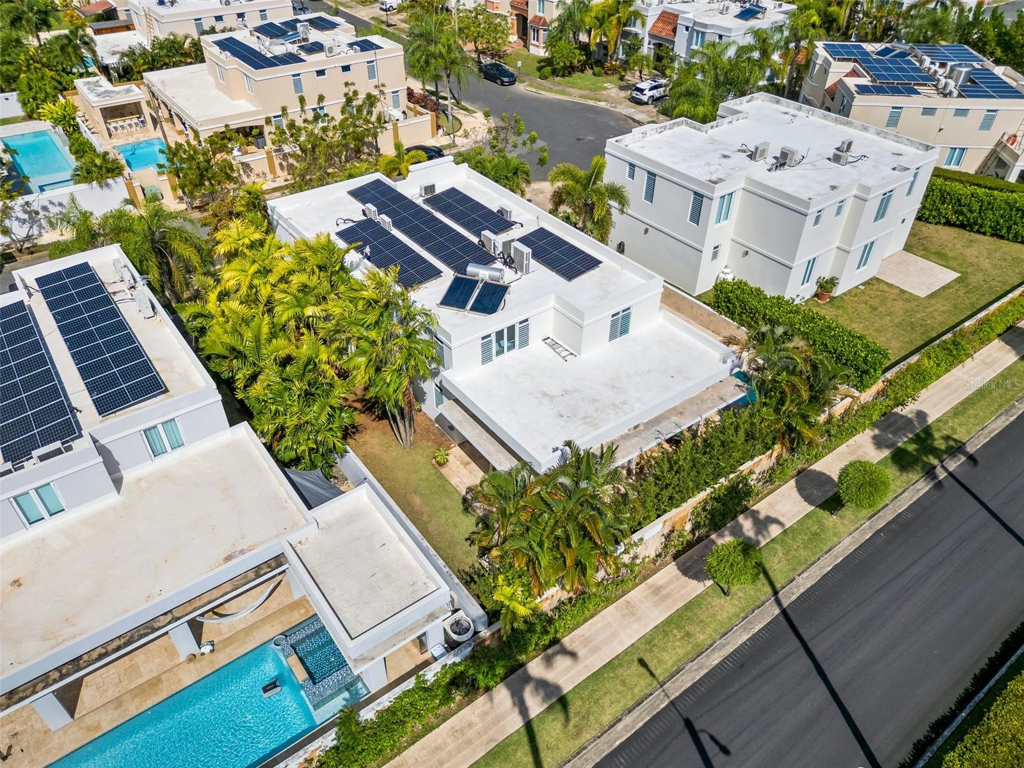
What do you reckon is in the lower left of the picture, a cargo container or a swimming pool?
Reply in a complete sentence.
The feature located in the lower left of the picture is a swimming pool.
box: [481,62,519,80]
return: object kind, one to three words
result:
car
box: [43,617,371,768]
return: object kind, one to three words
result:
swimming pool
